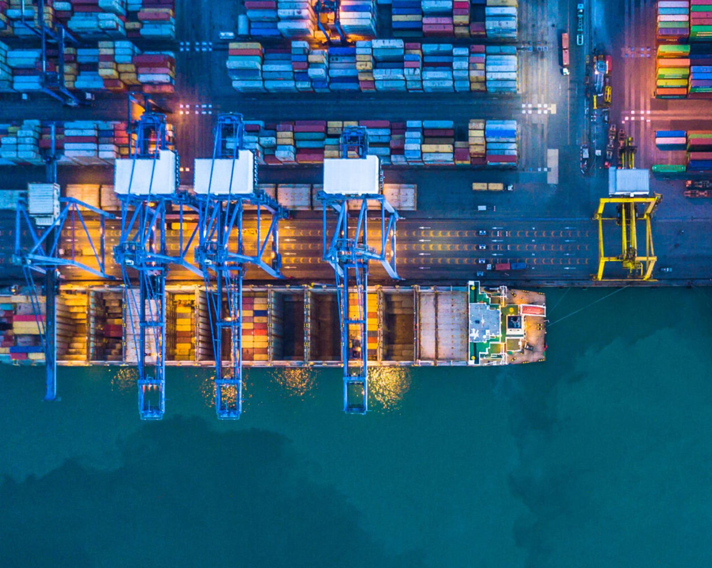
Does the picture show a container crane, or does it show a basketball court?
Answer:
container crane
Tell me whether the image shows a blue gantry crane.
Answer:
Yes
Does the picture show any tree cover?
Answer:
No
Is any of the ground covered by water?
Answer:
Yes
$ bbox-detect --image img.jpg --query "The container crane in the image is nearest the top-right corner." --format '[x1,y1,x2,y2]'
[588,134,657,279]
